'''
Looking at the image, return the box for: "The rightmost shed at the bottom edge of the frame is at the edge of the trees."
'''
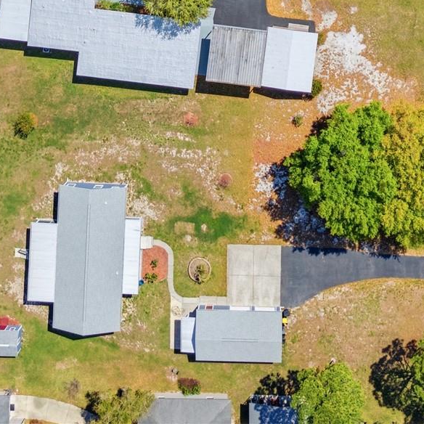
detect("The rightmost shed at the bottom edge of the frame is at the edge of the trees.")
[249,395,298,424]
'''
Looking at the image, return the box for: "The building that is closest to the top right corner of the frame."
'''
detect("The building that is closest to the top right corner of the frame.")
[261,26,317,93]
